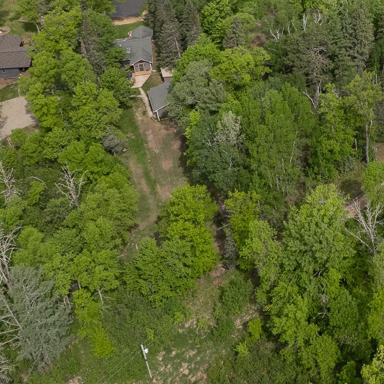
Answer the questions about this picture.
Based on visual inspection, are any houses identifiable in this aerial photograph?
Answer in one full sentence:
Yes, the image includes a house.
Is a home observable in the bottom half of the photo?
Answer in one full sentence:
No, the scene shows no home in the bottom half of the photo.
